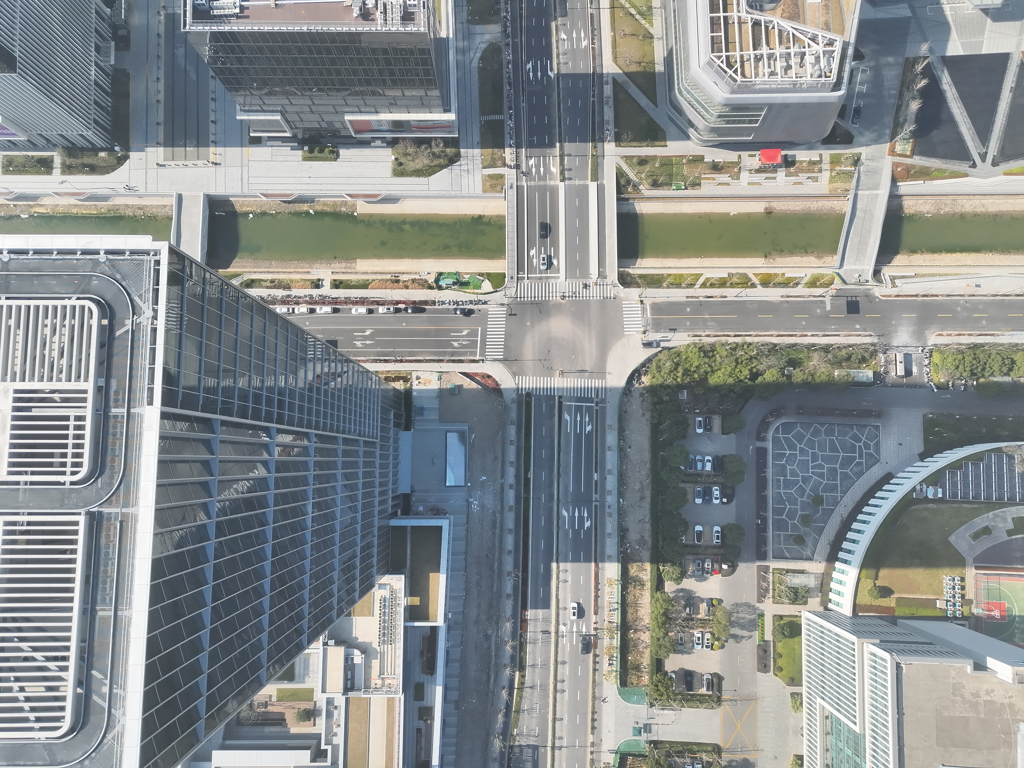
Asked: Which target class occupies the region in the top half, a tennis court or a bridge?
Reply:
bridge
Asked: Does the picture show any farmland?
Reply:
No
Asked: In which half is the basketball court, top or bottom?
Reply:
bottom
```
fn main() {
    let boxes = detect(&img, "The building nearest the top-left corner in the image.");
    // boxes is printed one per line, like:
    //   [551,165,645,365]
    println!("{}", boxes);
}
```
[0,0,143,148]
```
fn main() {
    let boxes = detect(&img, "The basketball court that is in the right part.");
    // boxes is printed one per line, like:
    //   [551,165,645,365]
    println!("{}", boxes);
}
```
[973,573,1024,639]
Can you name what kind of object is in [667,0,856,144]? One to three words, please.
building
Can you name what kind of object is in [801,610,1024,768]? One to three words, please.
building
